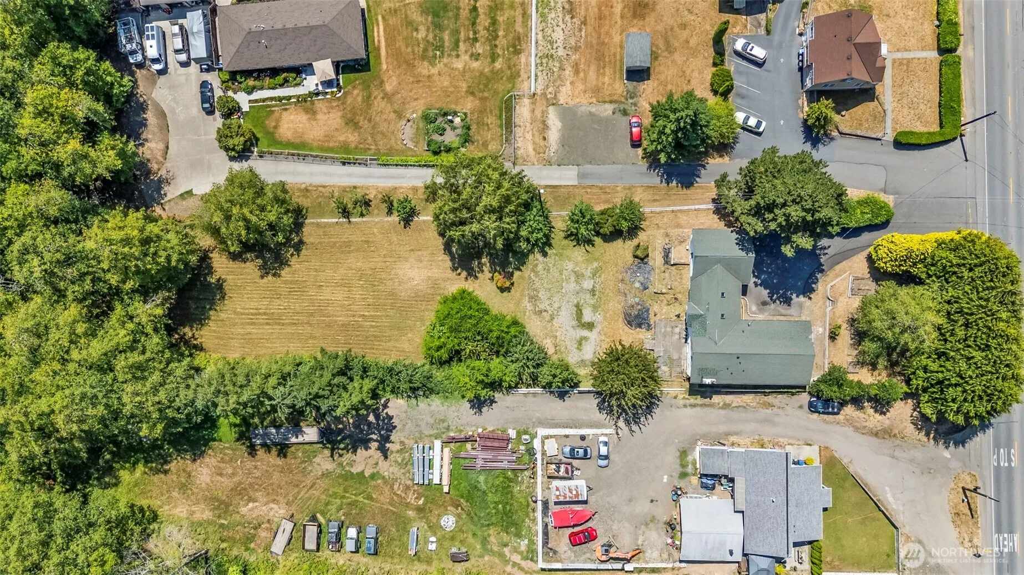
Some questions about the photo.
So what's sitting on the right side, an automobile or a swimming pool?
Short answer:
automobile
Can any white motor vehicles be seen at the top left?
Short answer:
Yes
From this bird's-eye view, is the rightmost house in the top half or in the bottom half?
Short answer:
top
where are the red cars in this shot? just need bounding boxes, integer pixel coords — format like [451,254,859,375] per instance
[629,115,643,147]
[568,527,599,546]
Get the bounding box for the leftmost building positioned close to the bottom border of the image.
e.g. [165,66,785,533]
[677,495,743,561]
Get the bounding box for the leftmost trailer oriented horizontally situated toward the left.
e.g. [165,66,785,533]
[250,425,327,447]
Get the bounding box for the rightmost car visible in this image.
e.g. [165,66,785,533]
[808,400,842,414]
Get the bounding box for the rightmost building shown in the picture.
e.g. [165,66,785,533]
[797,10,888,91]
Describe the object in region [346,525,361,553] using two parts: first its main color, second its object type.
white car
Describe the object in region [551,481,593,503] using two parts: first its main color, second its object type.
white trailer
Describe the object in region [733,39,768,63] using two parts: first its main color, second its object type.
white car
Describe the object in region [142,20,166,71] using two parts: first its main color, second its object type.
white vehicle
